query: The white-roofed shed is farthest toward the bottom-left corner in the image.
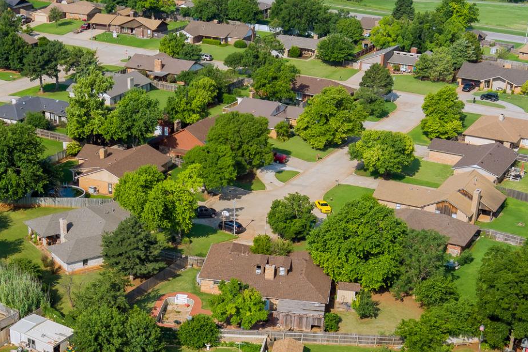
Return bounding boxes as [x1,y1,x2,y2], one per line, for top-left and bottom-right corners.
[9,315,75,352]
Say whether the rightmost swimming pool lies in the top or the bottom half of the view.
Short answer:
bottom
